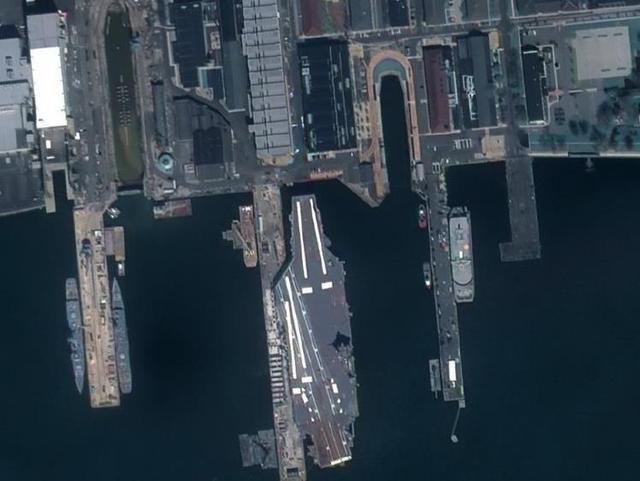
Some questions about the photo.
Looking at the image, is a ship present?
Yes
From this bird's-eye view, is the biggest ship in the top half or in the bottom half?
bottom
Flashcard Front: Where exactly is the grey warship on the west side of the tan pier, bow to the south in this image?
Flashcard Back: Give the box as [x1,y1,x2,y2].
[66,279,84,393]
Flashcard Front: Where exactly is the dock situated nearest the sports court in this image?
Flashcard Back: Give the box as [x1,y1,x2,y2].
[499,157,541,263]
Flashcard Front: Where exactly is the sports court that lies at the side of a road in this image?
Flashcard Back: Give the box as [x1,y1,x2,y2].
[576,26,632,80]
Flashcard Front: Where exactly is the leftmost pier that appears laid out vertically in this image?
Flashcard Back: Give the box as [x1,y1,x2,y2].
[75,207,119,408]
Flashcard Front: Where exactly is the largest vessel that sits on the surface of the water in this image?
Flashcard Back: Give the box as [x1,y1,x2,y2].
[273,194,359,469]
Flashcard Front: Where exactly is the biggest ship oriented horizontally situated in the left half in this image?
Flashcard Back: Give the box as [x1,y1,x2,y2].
[153,200,191,219]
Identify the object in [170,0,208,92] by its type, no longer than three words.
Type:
building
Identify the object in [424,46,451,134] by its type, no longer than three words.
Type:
building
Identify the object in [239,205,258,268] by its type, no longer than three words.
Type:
ship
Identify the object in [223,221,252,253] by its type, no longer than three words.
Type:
ship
